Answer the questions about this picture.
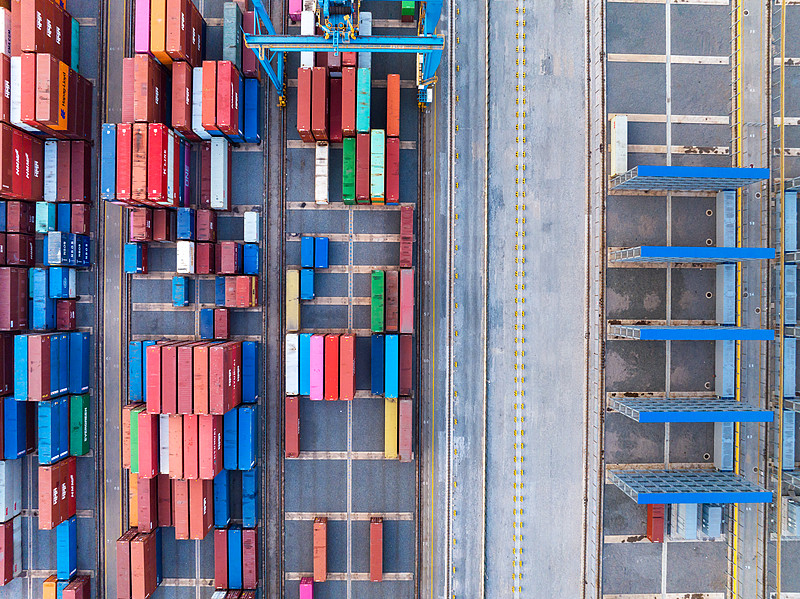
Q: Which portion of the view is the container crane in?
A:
top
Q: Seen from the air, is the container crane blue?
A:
Yes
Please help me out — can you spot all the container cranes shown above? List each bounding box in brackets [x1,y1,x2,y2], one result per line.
[245,0,448,108]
